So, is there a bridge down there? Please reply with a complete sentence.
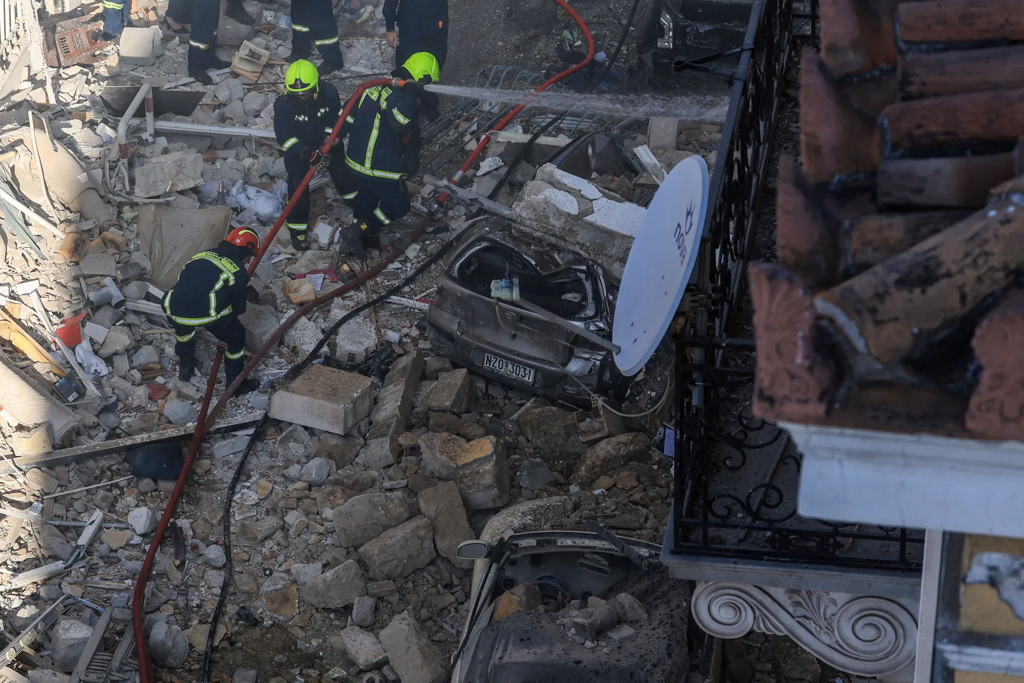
No, no bridge is visible in the view.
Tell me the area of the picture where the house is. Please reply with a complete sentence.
The house sits in the bottom right section of the image.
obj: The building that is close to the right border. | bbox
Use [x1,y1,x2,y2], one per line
[763,427,1024,683]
